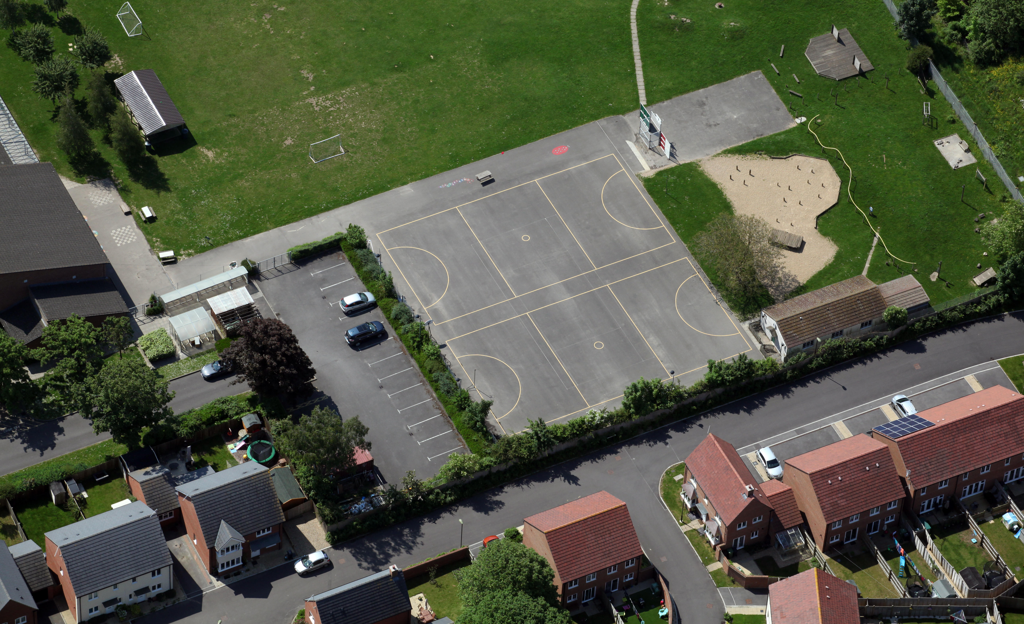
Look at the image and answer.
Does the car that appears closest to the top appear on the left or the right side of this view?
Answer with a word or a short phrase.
left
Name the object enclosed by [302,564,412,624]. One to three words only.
house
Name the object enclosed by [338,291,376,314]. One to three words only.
car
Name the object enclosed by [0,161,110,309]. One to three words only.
building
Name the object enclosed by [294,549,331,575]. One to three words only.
car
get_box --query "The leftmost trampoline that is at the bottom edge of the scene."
[904,575,929,598]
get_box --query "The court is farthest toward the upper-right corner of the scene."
[622,70,798,169]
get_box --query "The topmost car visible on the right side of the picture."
[888,391,918,417]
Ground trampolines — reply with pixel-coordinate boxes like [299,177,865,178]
[904,575,929,598]
[981,559,1006,588]
[247,434,275,465]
